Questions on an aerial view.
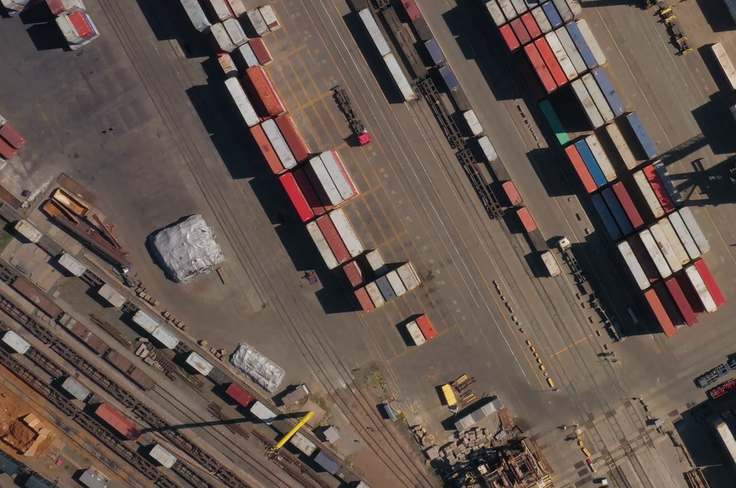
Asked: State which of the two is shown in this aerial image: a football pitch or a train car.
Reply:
train car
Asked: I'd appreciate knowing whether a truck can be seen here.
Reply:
Yes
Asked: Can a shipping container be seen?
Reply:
Yes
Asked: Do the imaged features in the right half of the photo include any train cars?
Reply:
Yes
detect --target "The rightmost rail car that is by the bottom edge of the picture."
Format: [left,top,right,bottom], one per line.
[315,453,357,488]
